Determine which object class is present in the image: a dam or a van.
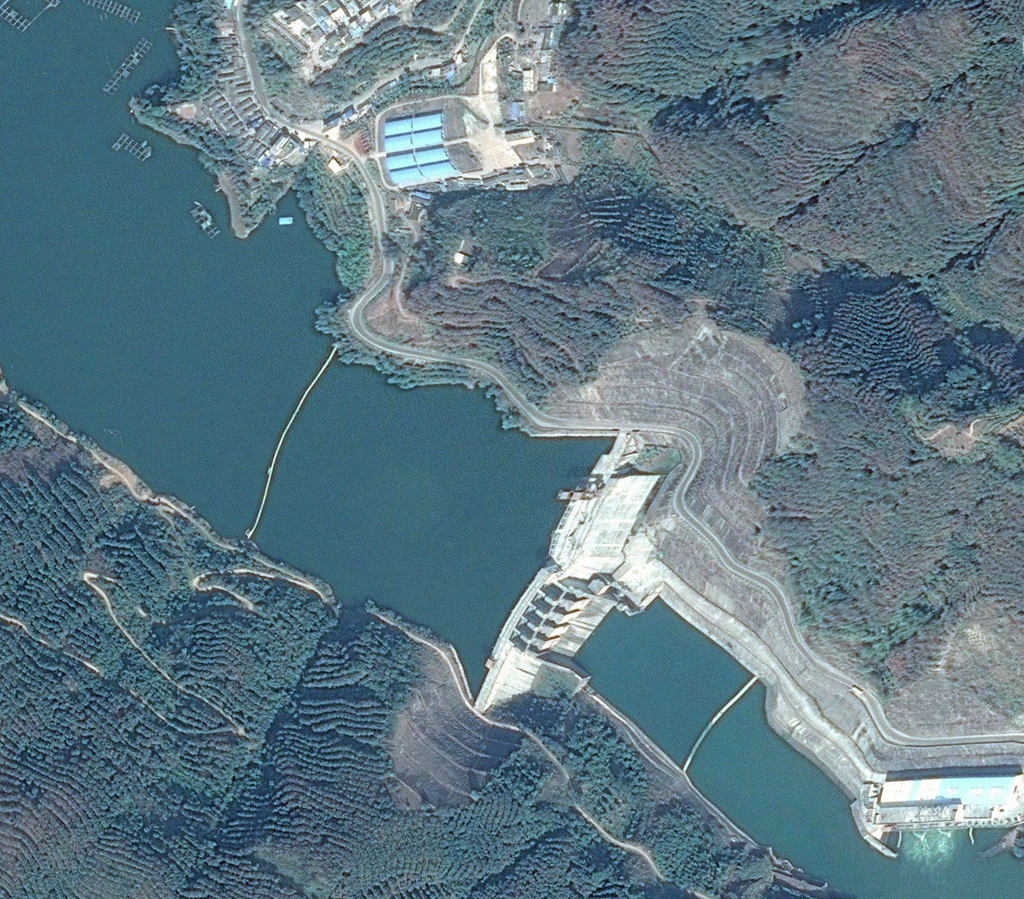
dam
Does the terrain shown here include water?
Yes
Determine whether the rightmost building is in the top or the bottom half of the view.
bottom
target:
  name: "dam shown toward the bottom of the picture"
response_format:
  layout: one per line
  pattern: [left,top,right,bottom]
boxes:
[475,433,662,712]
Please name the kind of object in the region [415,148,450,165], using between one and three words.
building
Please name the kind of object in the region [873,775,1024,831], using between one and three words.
building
